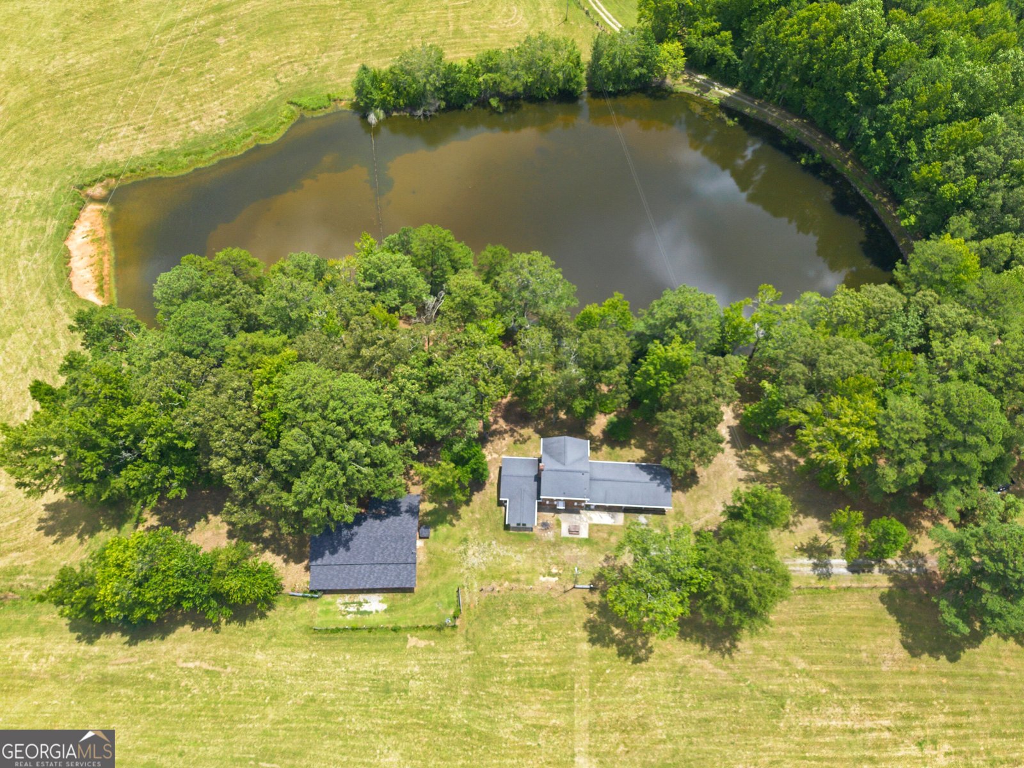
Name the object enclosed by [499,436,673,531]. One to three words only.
house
